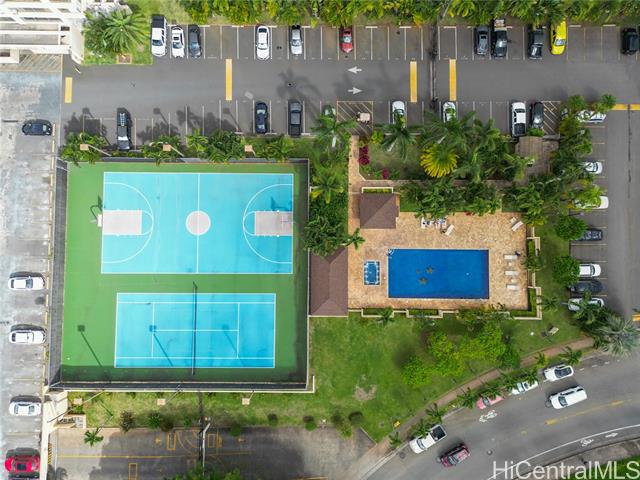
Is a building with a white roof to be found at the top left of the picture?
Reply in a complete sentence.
Yes, looking at the top left of the picture, one can make out a building with a white roof.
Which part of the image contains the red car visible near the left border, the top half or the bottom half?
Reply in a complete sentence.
It is in the bottom half that the red car visible near the left border appears.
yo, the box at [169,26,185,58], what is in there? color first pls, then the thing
white car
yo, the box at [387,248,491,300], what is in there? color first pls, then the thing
blue swimming pool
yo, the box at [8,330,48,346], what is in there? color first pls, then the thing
white car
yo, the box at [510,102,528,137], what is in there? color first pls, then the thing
white vehicle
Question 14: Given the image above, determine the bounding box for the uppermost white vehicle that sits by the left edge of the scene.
[8,275,47,291]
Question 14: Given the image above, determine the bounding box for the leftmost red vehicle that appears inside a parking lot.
[4,455,42,475]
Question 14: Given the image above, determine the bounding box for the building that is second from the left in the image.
[309,247,348,316]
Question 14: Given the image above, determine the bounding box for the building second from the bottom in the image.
[360,193,396,229]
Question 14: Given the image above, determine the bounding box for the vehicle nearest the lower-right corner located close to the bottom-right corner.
[548,386,589,410]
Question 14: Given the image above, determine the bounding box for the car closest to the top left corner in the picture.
[21,120,53,136]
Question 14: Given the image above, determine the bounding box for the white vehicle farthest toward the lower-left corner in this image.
[7,400,43,418]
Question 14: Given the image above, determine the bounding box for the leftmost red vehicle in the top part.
[339,26,354,54]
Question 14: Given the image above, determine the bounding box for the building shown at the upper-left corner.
[0,0,96,68]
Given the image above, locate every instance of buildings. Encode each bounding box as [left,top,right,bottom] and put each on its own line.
[309,247,348,316]
[360,193,396,229]
[0,0,96,68]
